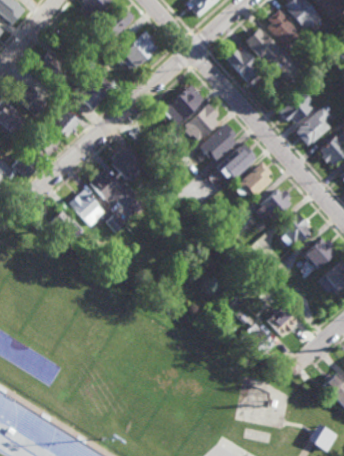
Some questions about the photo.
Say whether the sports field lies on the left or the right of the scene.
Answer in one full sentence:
The sports field is on the left side of the image.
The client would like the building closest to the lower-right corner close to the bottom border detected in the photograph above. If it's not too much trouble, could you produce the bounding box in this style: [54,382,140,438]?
[309,426,338,453]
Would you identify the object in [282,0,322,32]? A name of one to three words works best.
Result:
house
